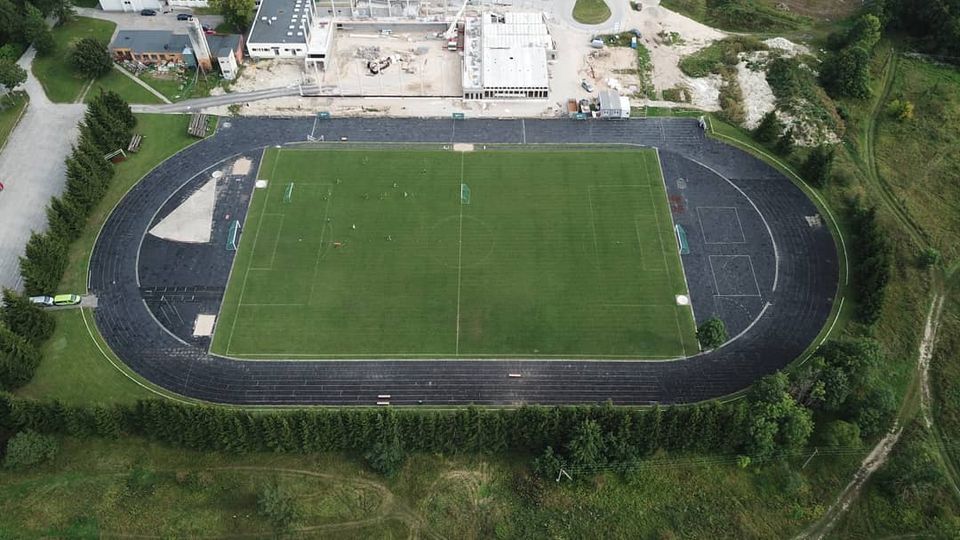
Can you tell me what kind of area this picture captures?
sports ground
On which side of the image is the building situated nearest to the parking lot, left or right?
left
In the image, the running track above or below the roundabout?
below it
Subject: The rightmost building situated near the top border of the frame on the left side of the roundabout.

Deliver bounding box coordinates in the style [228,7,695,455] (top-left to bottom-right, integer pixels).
[464,10,558,100]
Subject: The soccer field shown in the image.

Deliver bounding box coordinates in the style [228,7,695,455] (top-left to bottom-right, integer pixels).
[209,142,699,358]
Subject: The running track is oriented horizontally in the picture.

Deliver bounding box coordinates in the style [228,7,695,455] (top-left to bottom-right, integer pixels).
[88,116,839,408]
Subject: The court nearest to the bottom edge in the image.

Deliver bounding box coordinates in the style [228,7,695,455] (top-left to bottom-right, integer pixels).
[709,255,761,314]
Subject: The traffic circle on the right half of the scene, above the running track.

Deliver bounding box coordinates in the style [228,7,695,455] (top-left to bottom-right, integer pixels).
[562,0,622,31]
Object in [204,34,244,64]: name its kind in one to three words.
building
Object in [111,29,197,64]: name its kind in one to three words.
building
